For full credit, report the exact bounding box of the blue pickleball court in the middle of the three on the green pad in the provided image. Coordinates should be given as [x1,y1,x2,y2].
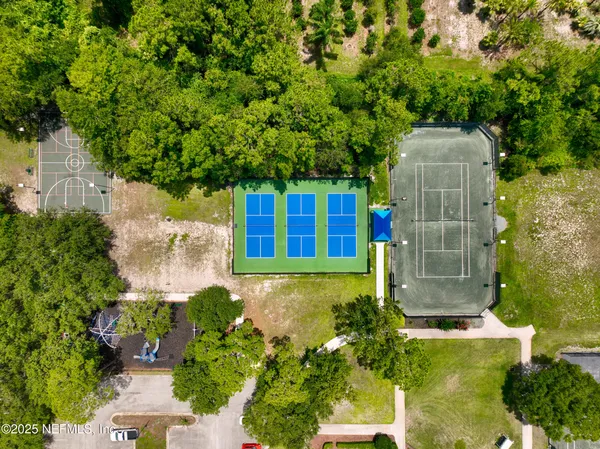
[287,193,316,258]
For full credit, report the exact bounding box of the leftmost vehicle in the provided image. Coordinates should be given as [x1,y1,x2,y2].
[110,428,140,443]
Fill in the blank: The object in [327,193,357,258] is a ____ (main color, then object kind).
blue sports court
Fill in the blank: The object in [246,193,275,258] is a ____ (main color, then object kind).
blue sports court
